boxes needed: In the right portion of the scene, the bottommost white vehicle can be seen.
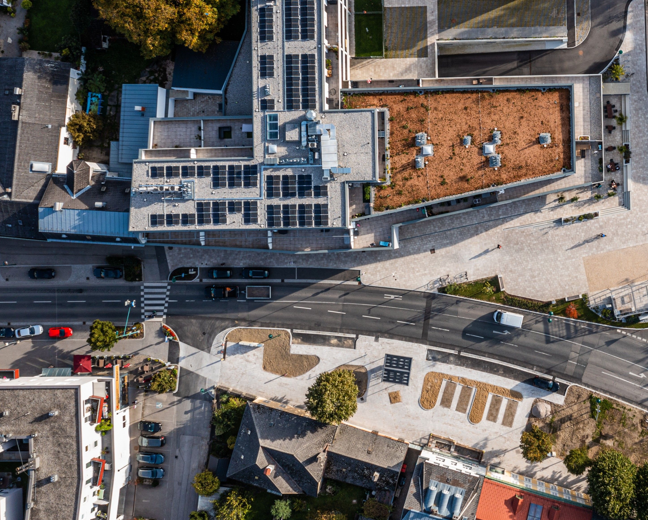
[491,311,522,327]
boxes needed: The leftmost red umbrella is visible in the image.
[73,355,92,372]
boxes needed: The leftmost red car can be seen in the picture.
[47,325,74,339]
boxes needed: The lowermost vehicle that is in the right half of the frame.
[533,375,560,394]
